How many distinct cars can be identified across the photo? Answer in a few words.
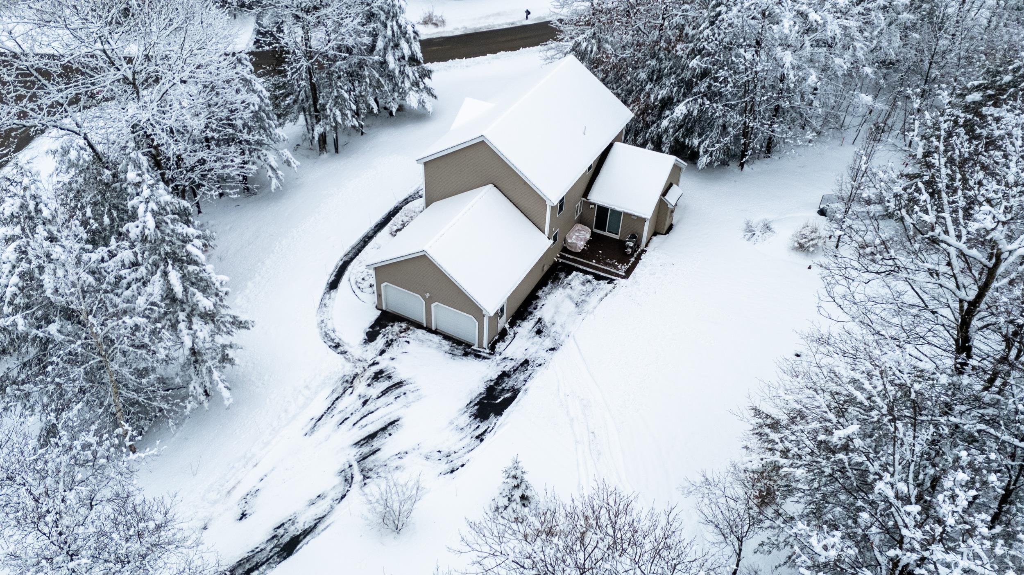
zero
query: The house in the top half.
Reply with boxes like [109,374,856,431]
[365,57,687,353]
